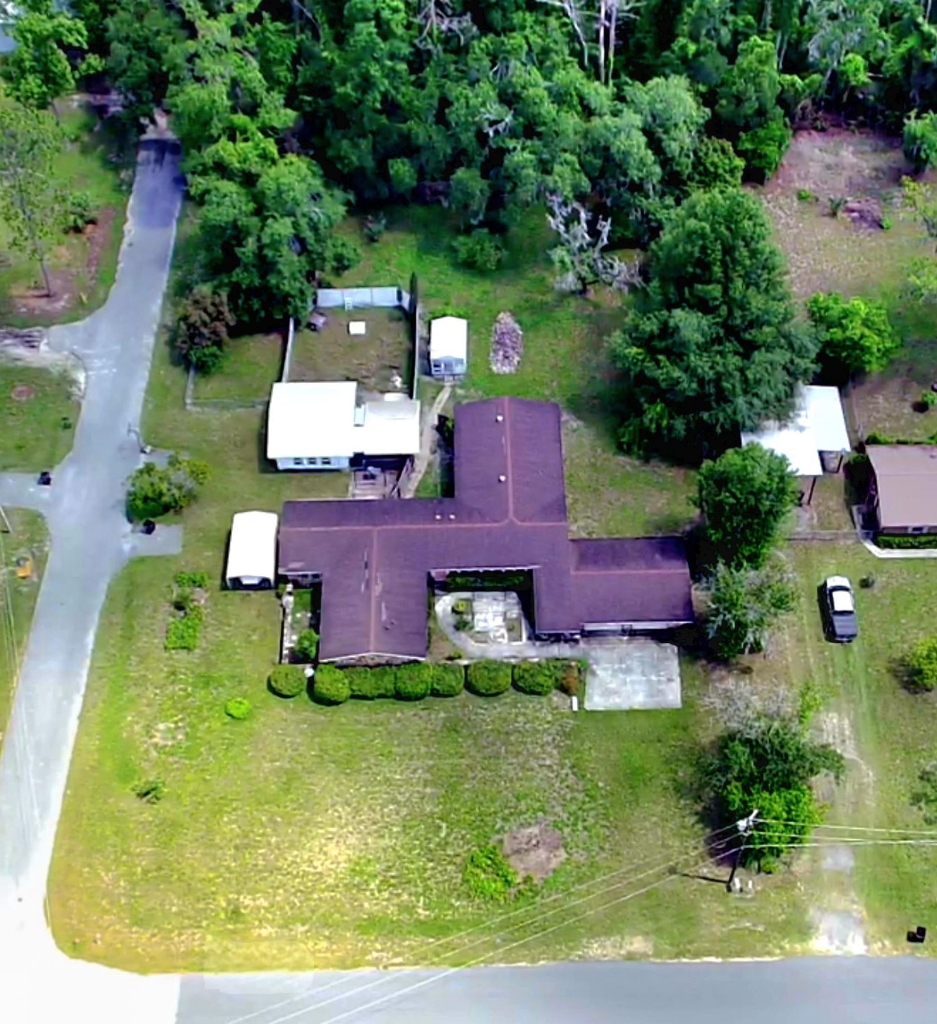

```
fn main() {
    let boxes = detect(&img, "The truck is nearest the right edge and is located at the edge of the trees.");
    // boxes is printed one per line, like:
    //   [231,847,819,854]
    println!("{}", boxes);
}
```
[827,581,864,652]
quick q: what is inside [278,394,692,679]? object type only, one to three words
house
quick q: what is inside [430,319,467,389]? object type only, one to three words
shed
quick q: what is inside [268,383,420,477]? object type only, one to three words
shed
